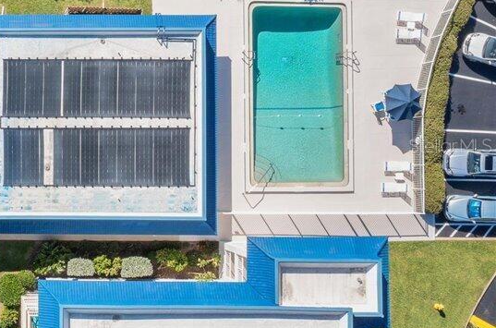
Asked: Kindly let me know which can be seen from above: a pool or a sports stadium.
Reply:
pool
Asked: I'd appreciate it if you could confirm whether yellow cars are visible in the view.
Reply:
No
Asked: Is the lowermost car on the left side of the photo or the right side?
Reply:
right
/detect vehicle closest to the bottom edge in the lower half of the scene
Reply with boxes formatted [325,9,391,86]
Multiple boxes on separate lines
[442,194,496,225]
